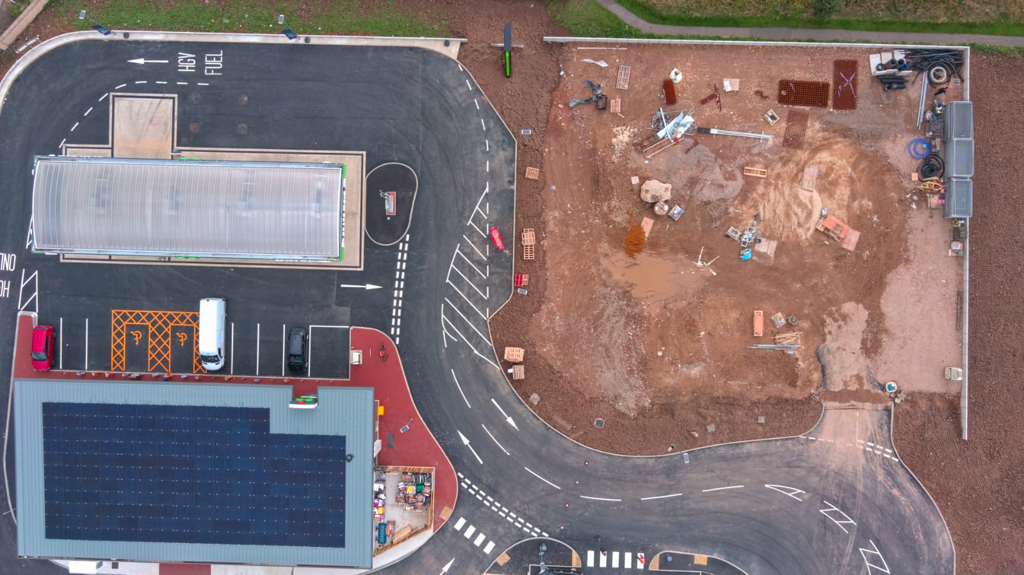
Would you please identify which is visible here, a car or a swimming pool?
car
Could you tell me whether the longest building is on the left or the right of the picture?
left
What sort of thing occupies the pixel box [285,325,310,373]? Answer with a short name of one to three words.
car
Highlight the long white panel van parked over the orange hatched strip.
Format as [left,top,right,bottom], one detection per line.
[197,298,228,369]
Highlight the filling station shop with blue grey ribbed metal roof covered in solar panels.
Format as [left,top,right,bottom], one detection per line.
[13,379,375,570]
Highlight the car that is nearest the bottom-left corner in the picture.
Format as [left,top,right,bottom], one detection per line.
[31,325,59,370]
